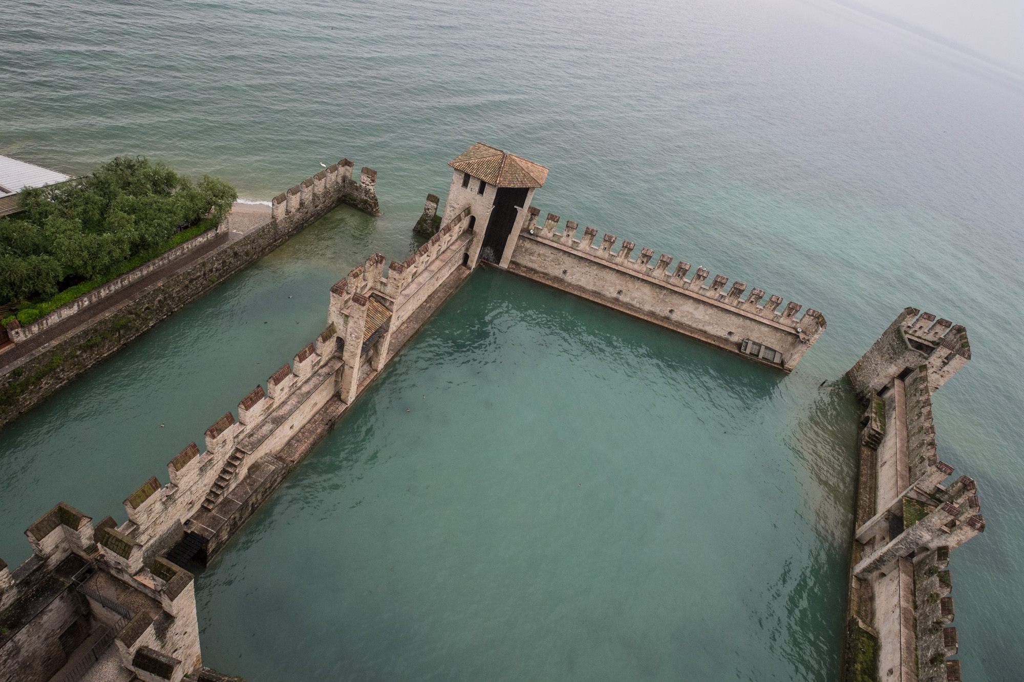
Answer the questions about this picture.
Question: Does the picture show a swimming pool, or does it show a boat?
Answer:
boat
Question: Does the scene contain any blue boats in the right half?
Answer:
No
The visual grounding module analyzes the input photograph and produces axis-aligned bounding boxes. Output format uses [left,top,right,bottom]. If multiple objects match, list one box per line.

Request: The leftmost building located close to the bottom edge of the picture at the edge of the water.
[0,503,233,682]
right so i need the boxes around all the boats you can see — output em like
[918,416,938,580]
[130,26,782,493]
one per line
[737,338,782,363]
